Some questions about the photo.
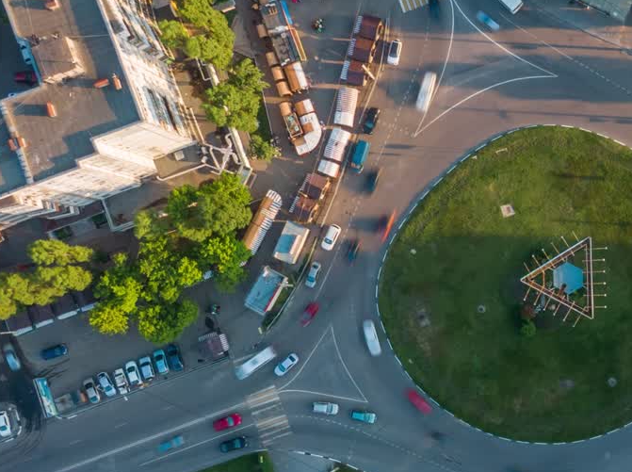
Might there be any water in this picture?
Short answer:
No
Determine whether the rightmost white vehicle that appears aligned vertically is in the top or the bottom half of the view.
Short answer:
top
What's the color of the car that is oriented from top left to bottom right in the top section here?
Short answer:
blue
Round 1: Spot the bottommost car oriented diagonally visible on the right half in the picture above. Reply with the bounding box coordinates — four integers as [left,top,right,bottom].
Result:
[406,390,431,412]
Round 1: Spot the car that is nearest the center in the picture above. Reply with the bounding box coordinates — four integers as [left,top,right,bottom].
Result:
[322,222,340,250]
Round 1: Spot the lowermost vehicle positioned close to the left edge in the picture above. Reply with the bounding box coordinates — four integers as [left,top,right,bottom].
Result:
[0,411,13,437]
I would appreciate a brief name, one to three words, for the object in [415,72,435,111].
vehicle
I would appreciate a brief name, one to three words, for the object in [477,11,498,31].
car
